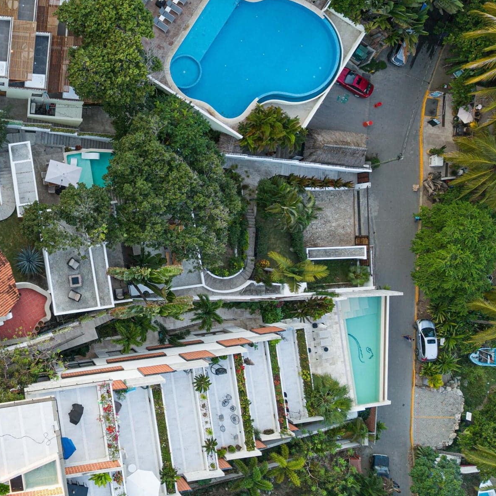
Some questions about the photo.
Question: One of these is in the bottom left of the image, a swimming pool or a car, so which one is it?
swimming pool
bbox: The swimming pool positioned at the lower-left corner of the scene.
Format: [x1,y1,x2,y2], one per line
[22,458,61,491]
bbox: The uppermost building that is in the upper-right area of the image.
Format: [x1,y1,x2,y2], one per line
[346,43,375,69]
